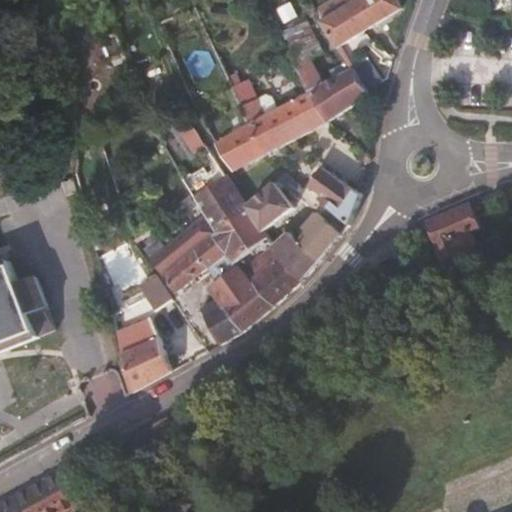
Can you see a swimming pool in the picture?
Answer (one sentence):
Yes, the image includes a swimming pool.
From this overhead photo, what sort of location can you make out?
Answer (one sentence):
The picture captures a residential area.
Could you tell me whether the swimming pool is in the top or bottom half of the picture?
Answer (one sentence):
Seen from above, the swimming pool lies in the top half of the view.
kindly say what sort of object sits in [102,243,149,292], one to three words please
building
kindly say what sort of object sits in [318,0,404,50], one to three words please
house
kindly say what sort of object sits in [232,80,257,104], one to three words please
shed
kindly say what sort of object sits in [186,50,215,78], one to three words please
swimming pool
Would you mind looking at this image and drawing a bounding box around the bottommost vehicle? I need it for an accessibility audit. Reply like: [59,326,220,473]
[52,434,72,449]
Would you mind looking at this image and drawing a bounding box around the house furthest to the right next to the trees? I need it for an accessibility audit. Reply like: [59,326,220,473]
[424,201,485,252]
